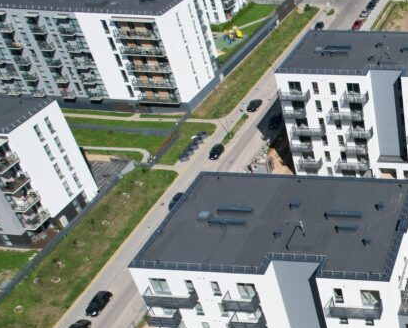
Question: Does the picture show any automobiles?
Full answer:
Yes, the image includes an automobile.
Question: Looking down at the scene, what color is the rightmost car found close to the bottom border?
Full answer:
In this view, the rightmost car found close to the bottom border is black.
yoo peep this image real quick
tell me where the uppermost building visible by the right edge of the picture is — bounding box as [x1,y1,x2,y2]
[275,26,408,180]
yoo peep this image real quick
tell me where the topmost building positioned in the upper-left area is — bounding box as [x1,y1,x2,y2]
[0,0,219,102]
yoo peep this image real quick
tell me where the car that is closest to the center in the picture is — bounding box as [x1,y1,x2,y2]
[207,145,225,158]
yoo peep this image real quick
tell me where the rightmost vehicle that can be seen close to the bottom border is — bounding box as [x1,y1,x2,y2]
[80,291,114,317]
